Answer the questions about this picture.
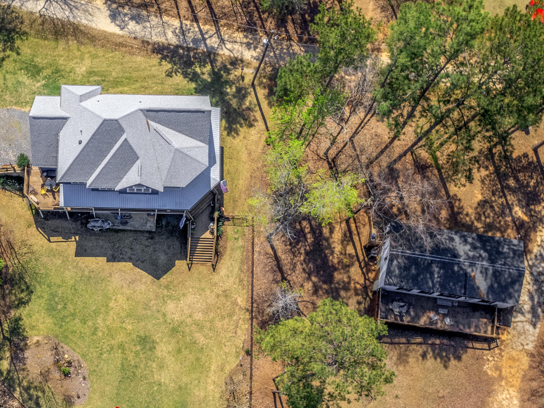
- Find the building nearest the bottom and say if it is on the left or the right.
right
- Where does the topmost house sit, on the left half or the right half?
left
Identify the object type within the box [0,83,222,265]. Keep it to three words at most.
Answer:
house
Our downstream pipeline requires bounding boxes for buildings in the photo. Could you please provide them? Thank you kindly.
[0,83,222,265]
[362,222,526,344]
